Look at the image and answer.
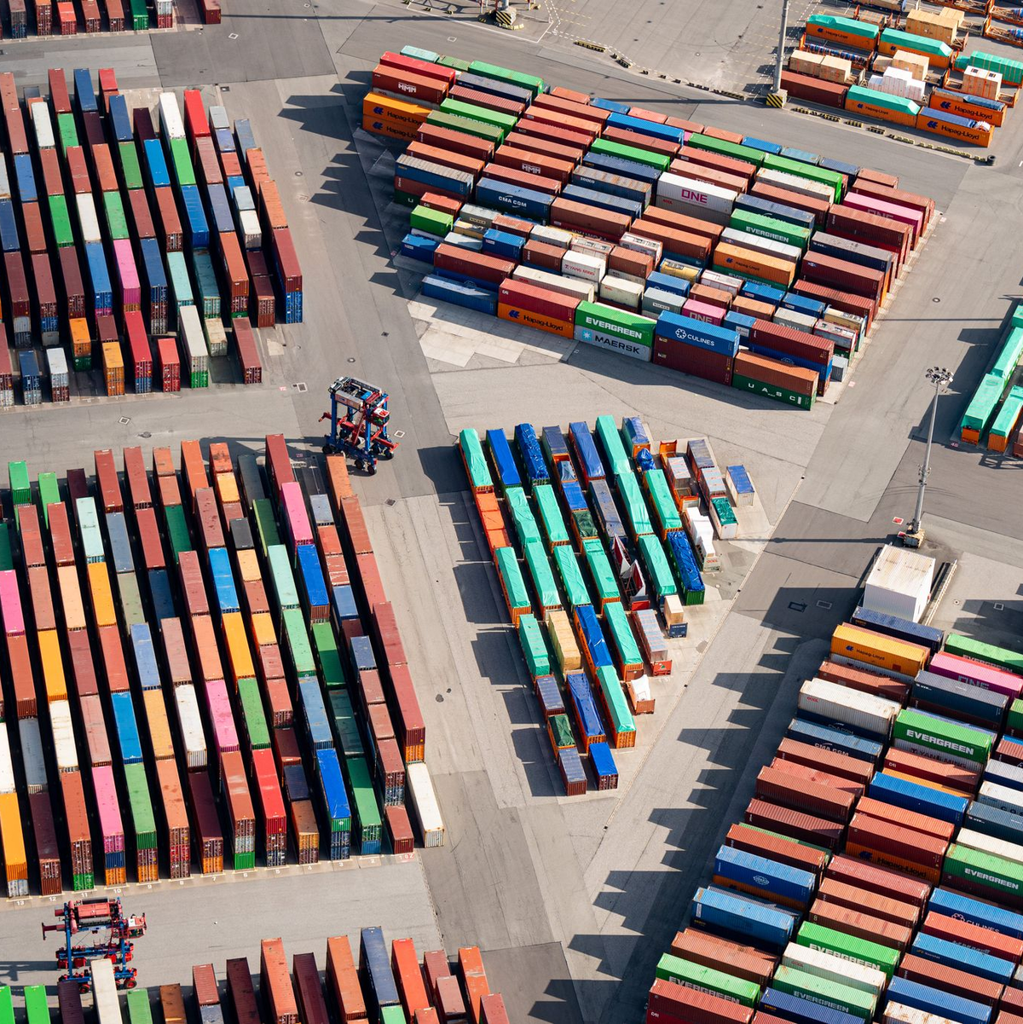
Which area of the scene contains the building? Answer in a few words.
right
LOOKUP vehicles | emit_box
[318,367,399,476]
[34,892,145,1001]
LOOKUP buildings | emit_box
[863,537,937,622]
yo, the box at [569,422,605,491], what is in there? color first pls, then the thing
blue shipping container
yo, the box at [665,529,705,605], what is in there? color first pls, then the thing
blue shipping container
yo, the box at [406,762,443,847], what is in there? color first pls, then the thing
white shipping container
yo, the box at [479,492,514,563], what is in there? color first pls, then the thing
orange shipping container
